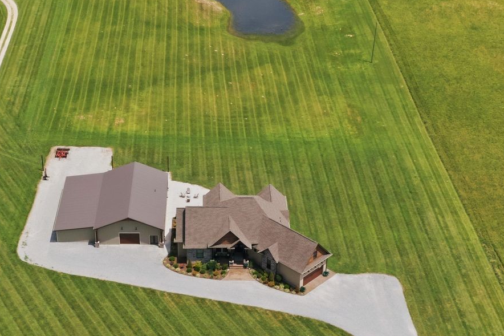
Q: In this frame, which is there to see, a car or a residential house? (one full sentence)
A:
Looking from above, you can make out a residential house.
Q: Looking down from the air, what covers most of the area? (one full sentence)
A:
Most of the picture is covered by grass.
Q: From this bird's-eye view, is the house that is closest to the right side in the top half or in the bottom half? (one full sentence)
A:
Seen from above, the house that is closest to the right side lies in the bottom half of the view.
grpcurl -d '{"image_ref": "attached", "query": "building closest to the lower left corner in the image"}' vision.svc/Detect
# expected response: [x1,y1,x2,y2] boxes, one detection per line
[54,161,170,245]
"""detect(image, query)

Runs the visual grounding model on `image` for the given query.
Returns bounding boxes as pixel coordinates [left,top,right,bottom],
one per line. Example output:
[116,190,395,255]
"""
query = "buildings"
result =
[54,161,170,245]
[174,183,333,287]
